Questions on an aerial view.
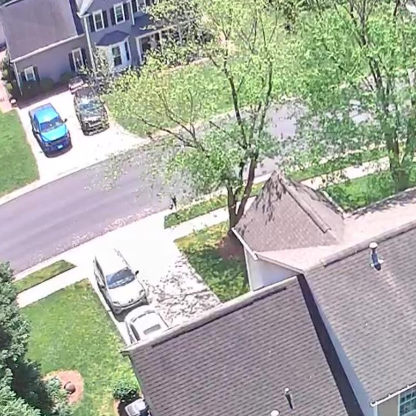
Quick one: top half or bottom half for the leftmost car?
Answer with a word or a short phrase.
top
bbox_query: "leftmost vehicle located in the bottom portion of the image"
[89,249,142,310]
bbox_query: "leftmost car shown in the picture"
[21,93,71,151]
